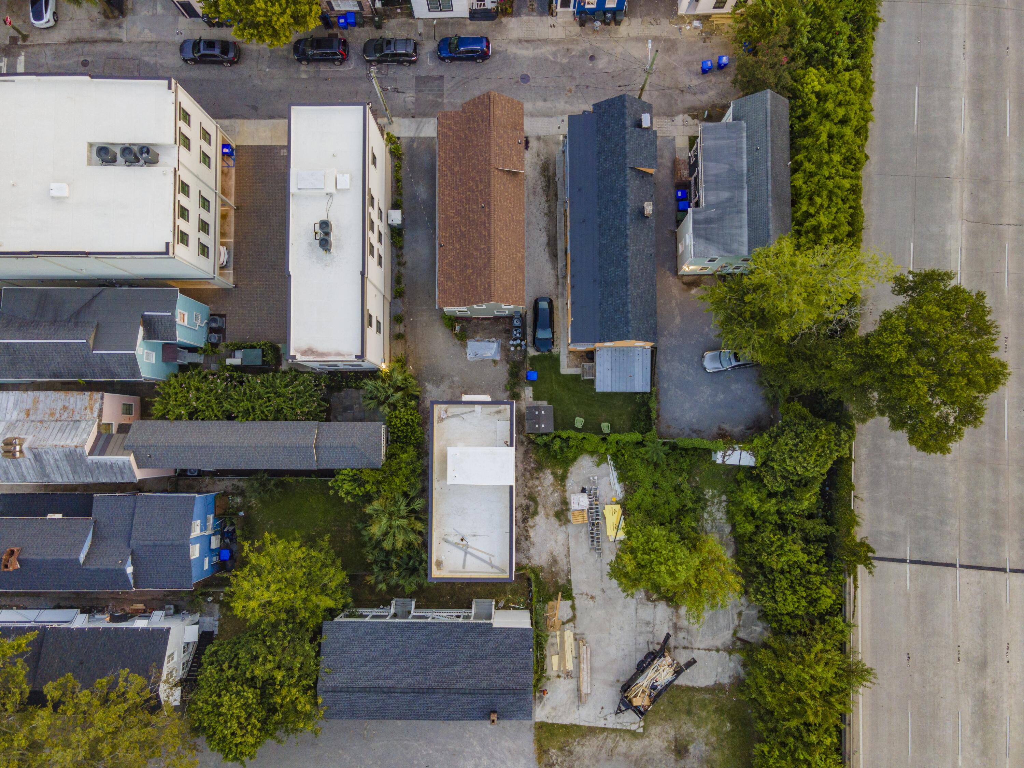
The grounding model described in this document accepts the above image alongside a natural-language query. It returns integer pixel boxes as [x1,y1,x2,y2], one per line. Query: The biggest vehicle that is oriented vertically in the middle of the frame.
[531,296,557,353]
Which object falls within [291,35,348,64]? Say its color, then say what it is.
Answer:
black car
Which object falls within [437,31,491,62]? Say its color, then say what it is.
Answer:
blue car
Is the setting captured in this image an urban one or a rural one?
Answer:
urban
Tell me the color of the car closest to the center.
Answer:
black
